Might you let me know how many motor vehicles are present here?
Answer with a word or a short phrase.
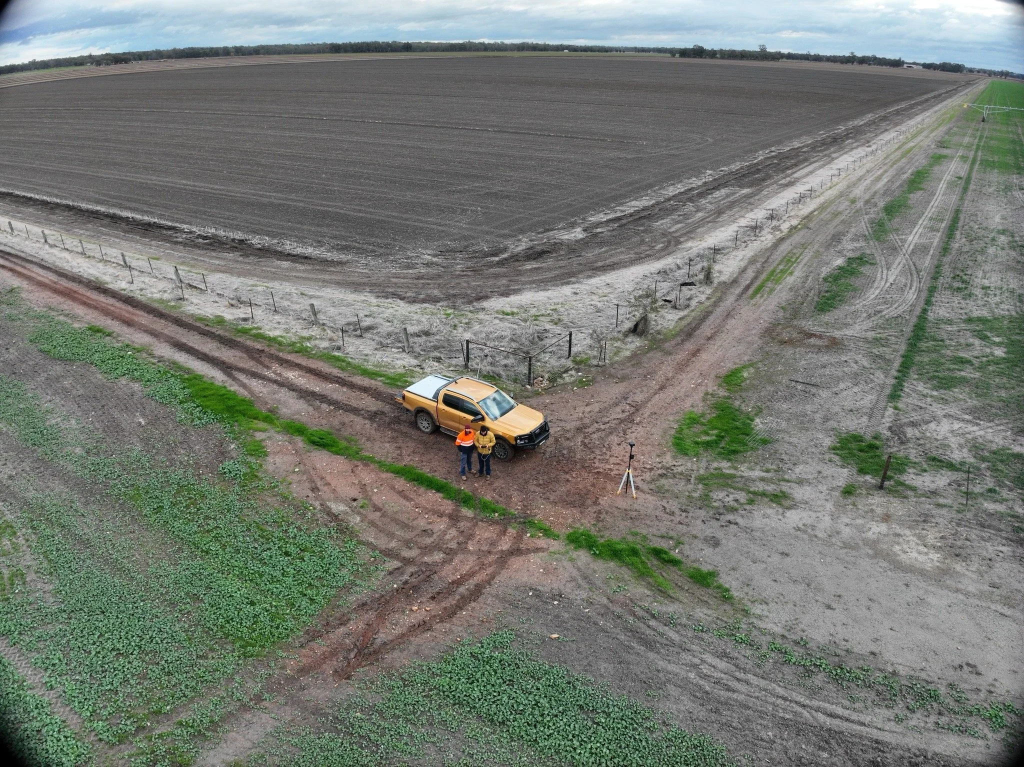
1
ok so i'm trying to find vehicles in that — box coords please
[394,374,553,462]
